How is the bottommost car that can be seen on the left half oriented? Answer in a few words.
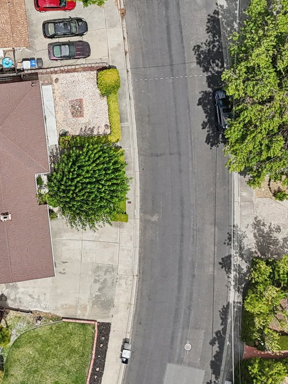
from left to right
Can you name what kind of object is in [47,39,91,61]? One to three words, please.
car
